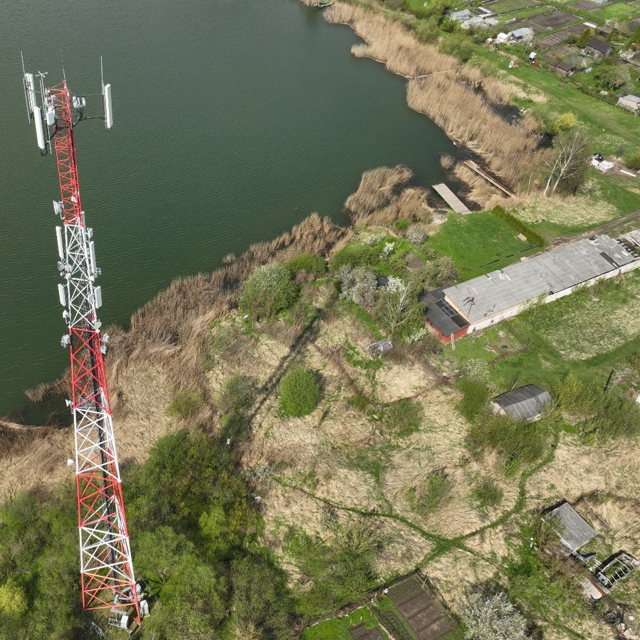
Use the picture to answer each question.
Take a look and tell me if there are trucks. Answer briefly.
No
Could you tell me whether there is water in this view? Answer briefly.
Yes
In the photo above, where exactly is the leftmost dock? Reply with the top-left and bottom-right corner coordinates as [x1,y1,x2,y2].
[432,184,470,215]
